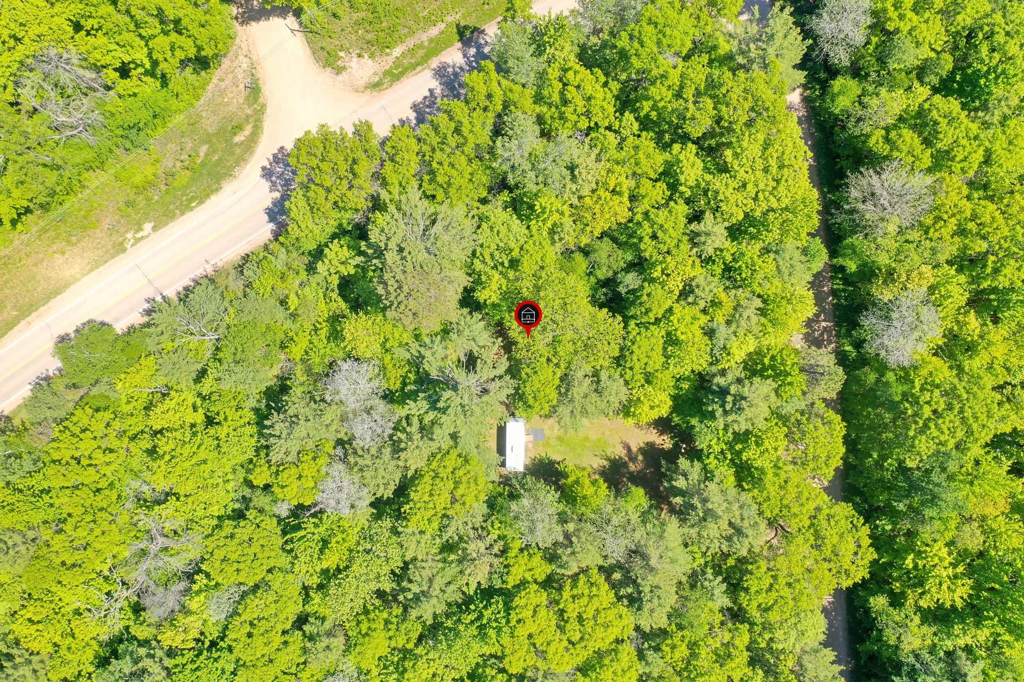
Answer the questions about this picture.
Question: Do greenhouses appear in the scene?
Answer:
No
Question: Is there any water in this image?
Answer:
No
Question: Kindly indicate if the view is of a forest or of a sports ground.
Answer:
forest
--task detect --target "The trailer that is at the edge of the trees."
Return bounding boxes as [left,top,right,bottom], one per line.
[506,410,525,471]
